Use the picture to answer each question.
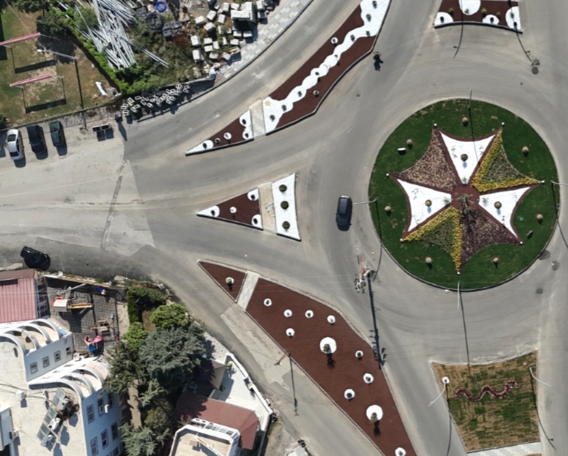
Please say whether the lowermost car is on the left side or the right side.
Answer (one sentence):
The lowermost car sits on the left side.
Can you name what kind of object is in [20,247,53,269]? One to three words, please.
car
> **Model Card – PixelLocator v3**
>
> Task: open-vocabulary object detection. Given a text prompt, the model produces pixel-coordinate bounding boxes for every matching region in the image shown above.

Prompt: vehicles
[7,128,26,161]
[20,247,53,269]
[49,120,68,147]
[28,121,49,156]
[335,194,352,230]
